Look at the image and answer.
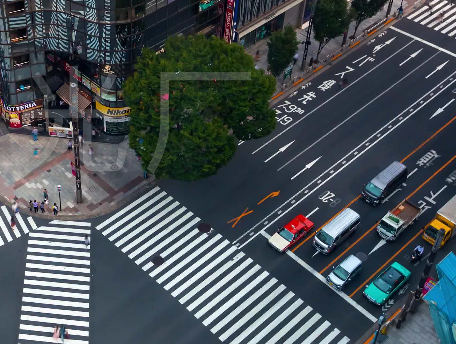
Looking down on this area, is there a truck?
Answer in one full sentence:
Yes, the frame does contain a truck.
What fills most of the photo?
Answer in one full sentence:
Most of the picture is covered by paved ground.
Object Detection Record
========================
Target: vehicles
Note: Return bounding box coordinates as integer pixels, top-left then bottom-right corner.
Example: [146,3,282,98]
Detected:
[419,191,456,249]
[267,215,315,254]
[361,262,413,308]
[359,157,410,204]
[311,206,362,254]
[410,248,424,266]
[320,251,369,295]
[372,198,427,244]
